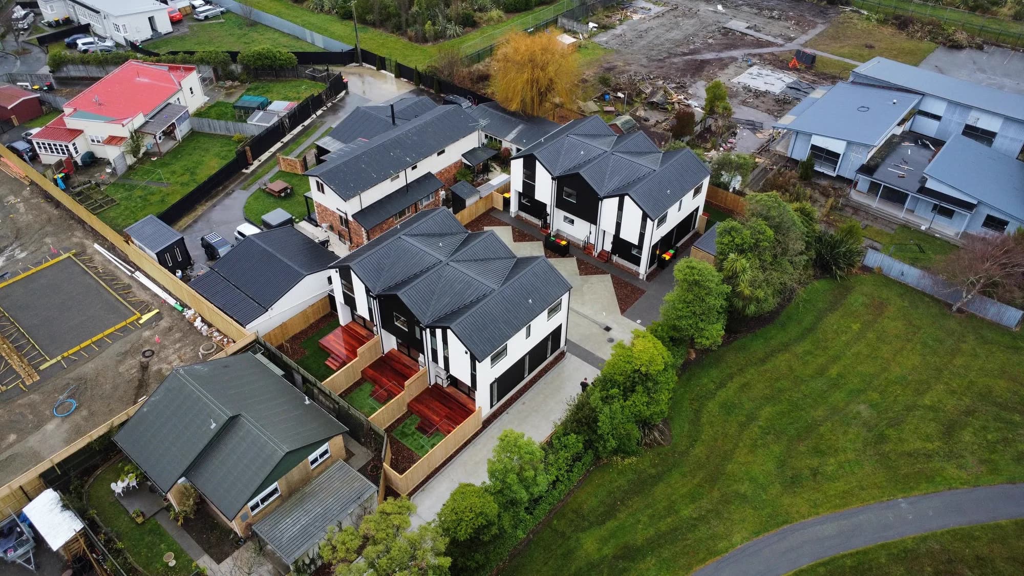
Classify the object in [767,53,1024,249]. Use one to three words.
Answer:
building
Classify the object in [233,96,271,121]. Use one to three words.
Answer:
house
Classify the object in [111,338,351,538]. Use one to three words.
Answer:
building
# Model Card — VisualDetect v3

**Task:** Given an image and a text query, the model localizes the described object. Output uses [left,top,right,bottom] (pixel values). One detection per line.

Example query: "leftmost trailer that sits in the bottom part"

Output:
[0,502,37,571]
